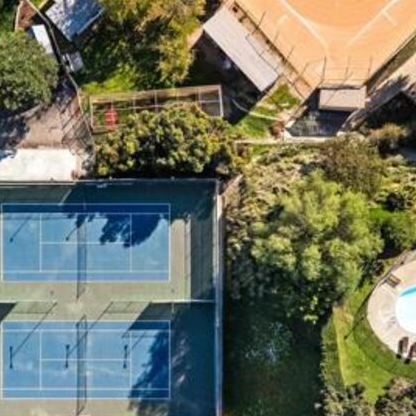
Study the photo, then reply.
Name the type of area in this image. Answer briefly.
sports ground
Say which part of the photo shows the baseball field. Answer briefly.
top right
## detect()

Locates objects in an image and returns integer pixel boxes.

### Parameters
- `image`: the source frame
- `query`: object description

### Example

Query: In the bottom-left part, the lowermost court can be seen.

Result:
[0,301,220,416]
